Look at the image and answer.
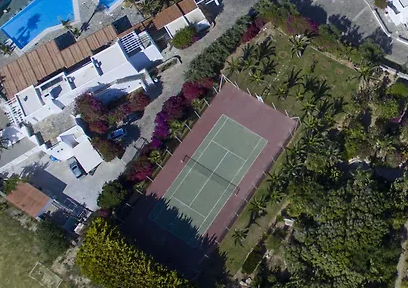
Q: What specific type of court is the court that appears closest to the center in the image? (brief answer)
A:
tennis court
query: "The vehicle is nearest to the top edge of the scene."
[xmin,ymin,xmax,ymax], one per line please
[118,113,139,128]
